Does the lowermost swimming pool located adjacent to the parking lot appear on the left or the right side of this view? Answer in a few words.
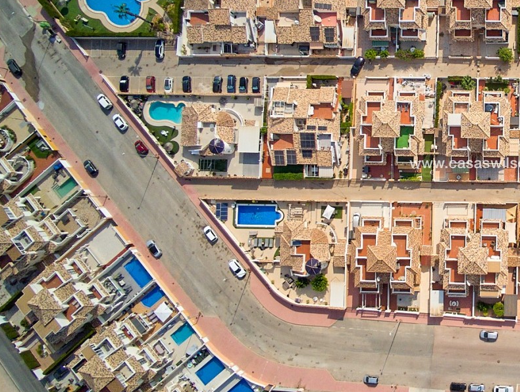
left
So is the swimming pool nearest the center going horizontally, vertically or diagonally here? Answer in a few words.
horizontally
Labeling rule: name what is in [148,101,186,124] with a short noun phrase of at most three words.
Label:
swimming pool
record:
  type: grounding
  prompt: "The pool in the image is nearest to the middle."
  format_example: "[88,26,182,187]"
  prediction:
[236,204,284,227]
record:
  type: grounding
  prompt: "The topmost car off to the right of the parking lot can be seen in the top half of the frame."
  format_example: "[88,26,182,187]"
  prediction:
[351,57,365,76]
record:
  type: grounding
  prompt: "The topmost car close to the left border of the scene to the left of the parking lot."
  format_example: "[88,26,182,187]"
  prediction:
[7,59,24,77]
